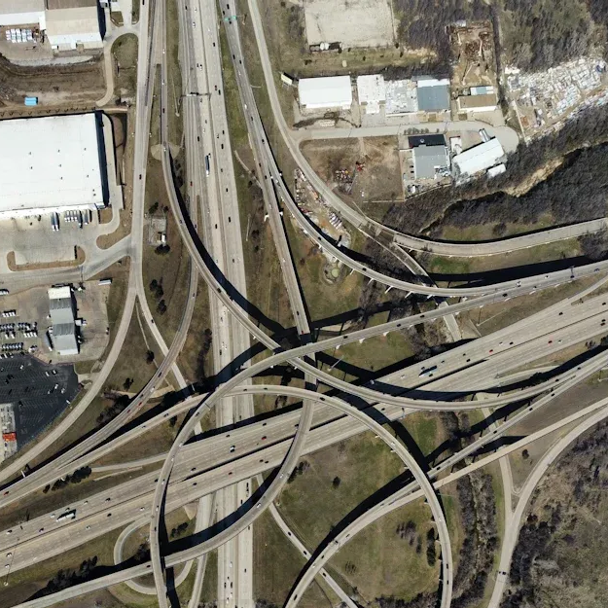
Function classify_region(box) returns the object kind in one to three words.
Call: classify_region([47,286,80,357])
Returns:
building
